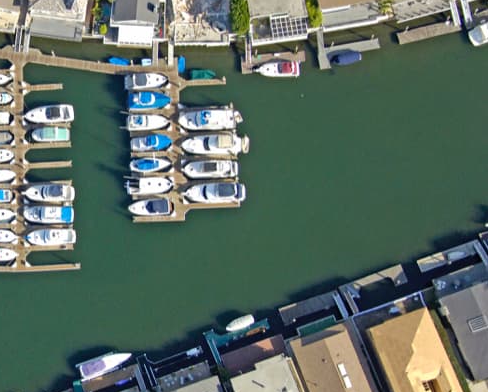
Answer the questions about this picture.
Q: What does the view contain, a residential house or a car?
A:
residential house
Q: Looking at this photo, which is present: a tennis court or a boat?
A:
boat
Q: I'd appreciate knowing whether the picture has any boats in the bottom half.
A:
Yes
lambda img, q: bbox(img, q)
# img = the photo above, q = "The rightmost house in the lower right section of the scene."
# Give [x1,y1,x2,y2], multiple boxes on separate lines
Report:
[427,274,488,382]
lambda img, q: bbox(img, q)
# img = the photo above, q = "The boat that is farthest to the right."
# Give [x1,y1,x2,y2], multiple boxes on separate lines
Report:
[469,21,488,42]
